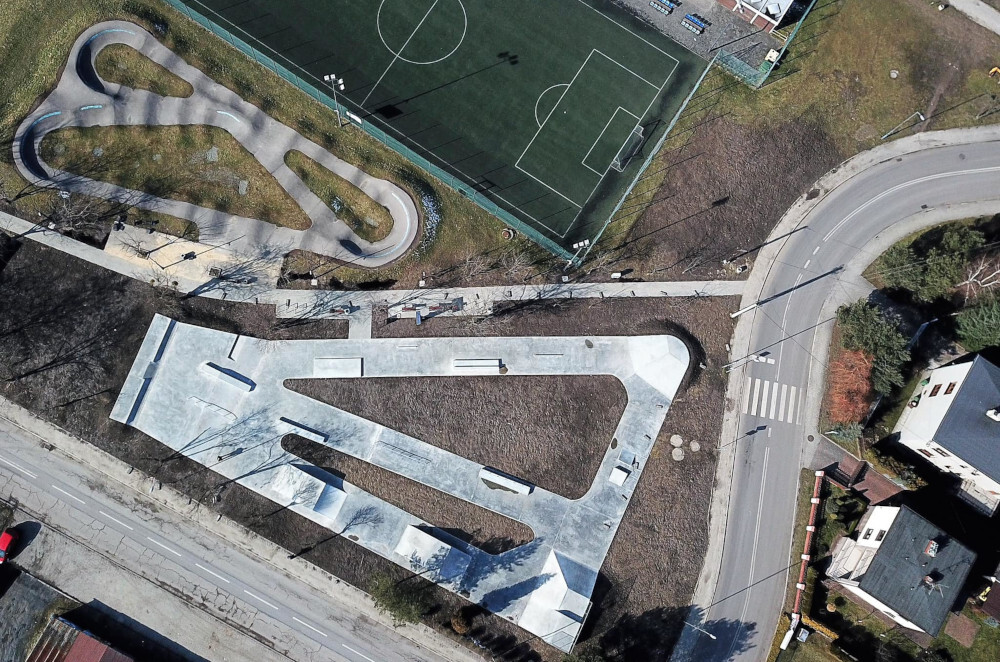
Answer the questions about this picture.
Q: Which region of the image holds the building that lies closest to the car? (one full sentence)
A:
The building that lies closest to the car is located in the bottom left region of the scene.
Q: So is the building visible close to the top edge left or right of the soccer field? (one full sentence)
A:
Looking at the picture, you'll find the building visible close to the top edge to the right of the soccer field.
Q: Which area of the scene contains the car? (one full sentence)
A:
The car is located in the bottom left region of the scene.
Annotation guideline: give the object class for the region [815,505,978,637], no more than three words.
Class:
house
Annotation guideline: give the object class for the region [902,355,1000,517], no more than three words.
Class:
house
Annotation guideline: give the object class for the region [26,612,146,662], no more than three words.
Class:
building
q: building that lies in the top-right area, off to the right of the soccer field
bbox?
[731,0,795,35]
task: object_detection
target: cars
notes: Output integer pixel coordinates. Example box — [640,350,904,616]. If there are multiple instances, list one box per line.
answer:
[0,525,21,570]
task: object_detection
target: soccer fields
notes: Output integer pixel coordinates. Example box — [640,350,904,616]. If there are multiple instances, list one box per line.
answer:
[149,0,719,274]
